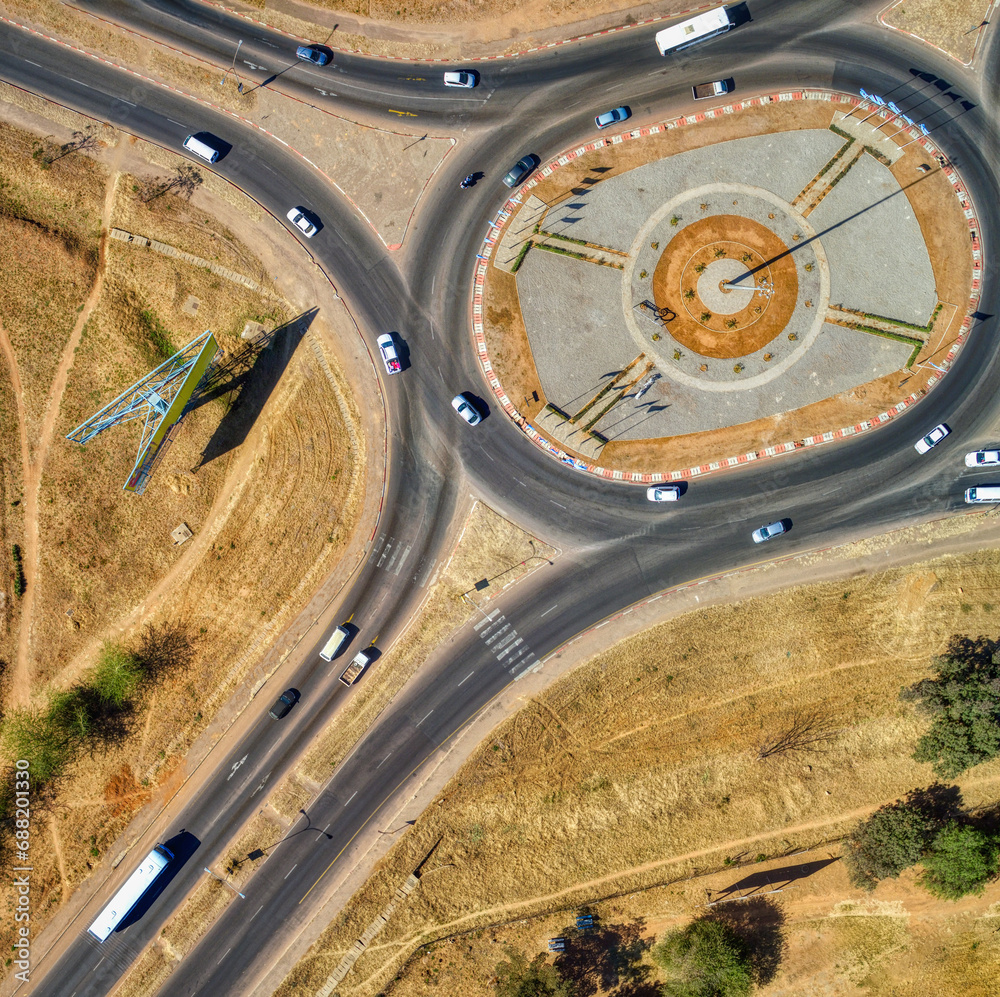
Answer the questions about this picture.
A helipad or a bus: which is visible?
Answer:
bus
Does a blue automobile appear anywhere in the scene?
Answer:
Yes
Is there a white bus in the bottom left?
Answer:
Yes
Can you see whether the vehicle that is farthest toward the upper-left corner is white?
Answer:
Yes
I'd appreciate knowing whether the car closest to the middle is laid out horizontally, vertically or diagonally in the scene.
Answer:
diagonally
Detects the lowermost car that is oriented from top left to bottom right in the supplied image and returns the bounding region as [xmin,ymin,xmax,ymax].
[448,393,483,429]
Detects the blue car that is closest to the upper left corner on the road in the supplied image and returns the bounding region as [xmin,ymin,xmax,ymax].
[293,42,330,67]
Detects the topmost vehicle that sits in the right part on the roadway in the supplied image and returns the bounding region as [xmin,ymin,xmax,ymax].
[654,0,738,54]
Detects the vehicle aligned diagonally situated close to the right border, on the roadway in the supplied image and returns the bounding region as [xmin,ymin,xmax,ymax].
[914,420,954,455]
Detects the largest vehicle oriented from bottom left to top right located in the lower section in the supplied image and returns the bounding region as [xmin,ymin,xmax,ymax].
[80,845,174,954]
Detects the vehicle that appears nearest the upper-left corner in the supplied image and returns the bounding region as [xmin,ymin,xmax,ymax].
[181,134,218,162]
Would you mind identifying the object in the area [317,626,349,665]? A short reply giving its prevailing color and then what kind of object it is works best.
white vehicle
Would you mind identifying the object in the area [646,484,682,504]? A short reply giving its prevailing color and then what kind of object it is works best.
white car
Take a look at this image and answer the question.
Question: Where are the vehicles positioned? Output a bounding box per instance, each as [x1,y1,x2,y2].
[80,845,174,954]
[966,449,1000,469]
[293,42,330,67]
[448,393,483,429]
[376,334,401,376]
[595,104,630,128]
[691,77,729,100]
[317,626,349,665]
[751,520,790,545]
[444,68,476,87]
[654,0,738,54]
[966,485,1000,505]
[181,134,218,162]
[914,420,954,455]
[646,484,682,504]
[501,152,538,187]
[282,204,319,240]
[337,649,368,688]
[268,687,300,723]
